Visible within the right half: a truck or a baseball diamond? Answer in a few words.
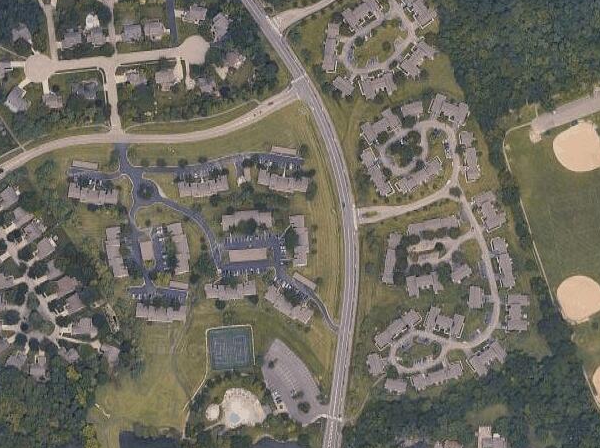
baseball diamond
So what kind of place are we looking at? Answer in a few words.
residential area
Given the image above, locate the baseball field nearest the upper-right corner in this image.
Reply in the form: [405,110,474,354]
[551,121,600,173]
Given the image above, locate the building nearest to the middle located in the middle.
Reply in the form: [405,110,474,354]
[289,215,309,266]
